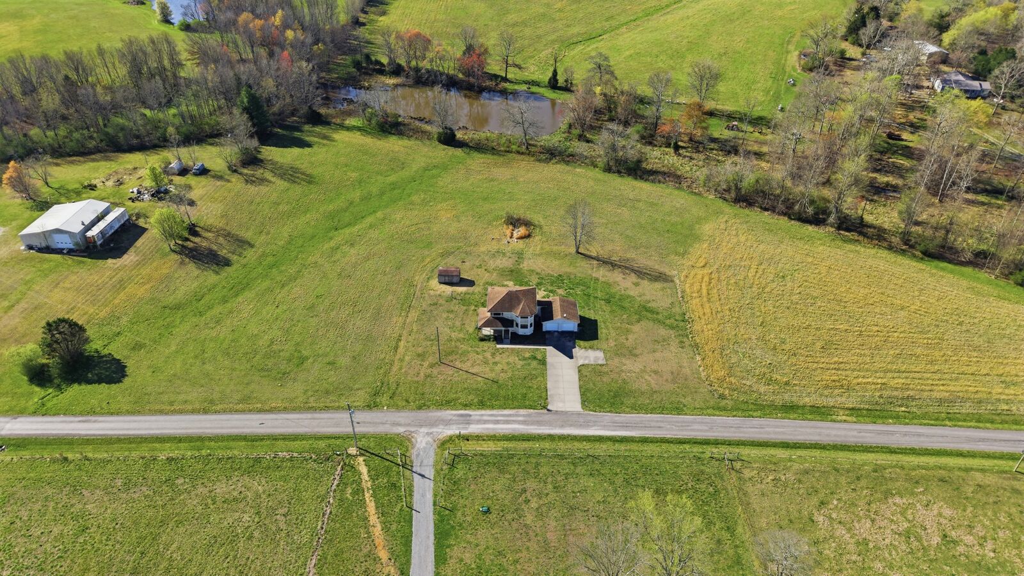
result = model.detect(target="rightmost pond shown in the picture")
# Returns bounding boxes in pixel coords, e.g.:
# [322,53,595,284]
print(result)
[328,87,567,135]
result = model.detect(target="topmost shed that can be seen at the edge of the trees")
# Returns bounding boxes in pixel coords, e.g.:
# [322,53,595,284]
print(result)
[909,43,957,64]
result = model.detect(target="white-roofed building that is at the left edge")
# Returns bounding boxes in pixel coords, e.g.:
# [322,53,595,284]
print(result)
[17,197,113,248]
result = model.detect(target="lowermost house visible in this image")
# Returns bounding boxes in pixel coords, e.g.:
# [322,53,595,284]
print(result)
[478,287,581,345]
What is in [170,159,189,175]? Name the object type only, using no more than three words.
camper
